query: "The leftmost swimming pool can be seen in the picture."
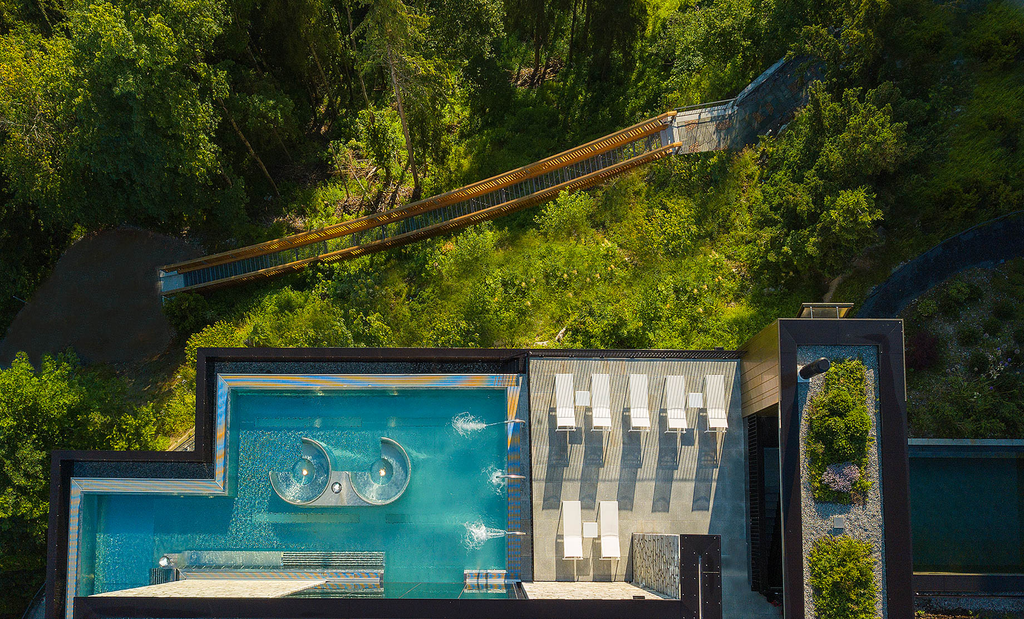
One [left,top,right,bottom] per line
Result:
[63,373,521,619]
